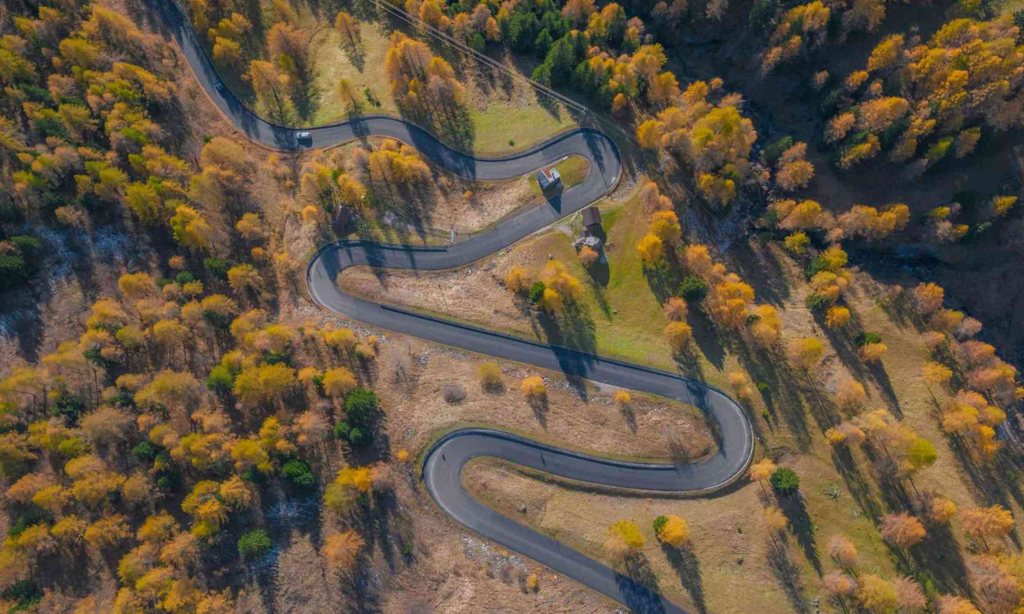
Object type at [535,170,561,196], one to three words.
shed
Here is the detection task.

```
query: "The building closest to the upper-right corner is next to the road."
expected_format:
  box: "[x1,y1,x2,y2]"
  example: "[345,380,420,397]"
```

[582,208,602,233]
